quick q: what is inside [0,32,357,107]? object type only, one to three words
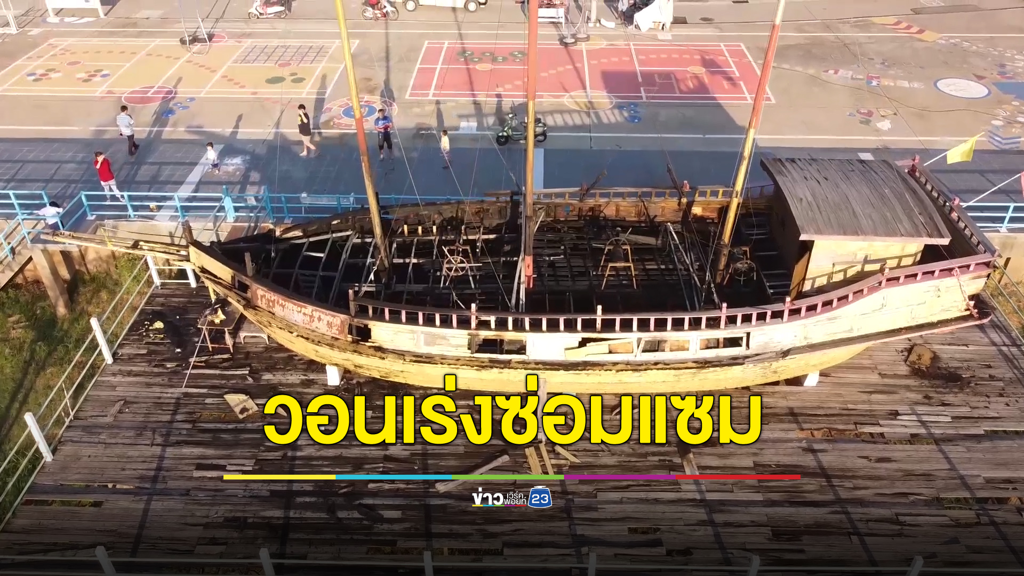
sports court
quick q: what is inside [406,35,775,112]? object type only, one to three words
sports court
